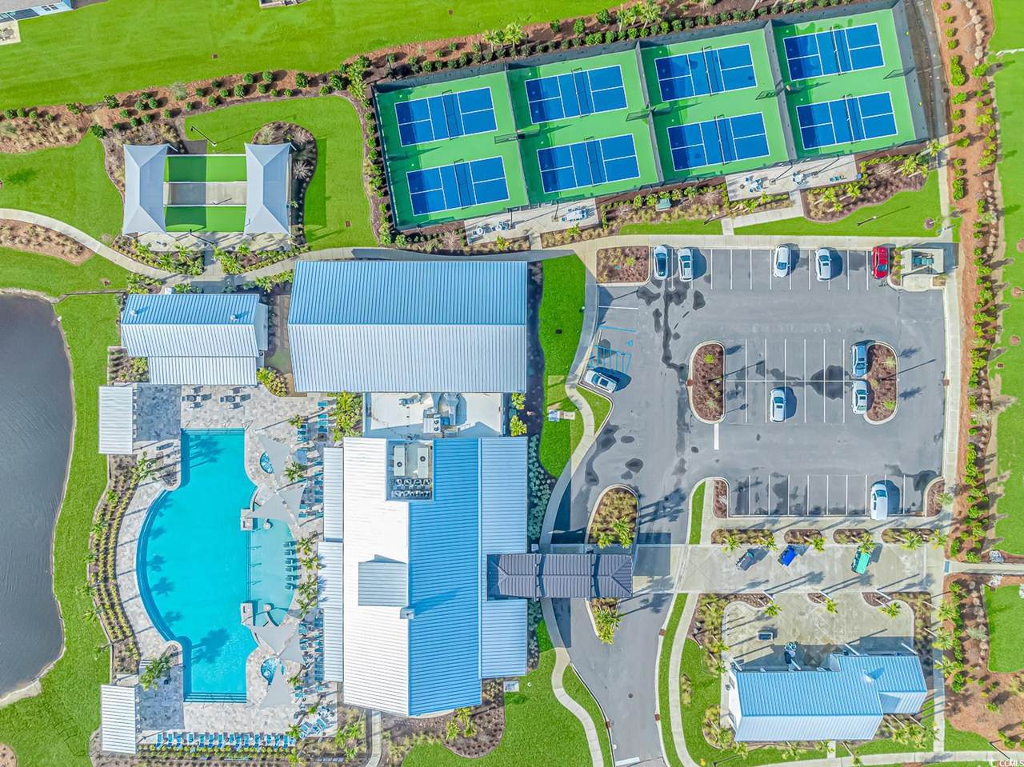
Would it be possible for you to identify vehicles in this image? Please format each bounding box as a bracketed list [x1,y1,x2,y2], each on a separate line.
[848,548,868,570]
[850,379,870,414]
[869,481,890,520]
[768,387,787,422]
[652,245,669,280]
[814,248,833,282]
[850,343,869,377]
[677,247,695,283]
[582,370,618,394]
[871,245,890,280]
[772,244,790,280]
[734,548,754,569]
[775,544,796,565]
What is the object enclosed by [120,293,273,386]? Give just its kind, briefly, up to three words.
building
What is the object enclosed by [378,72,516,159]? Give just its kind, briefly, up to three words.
sports court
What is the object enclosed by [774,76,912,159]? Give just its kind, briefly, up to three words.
sports court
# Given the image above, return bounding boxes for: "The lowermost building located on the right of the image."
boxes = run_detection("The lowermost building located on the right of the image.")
[729,647,926,740]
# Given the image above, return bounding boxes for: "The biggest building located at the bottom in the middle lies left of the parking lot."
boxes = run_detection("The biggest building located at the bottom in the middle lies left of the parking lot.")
[318,436,526,716]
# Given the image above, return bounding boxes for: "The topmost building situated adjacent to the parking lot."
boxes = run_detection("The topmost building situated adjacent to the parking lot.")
[288,260,527,393]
